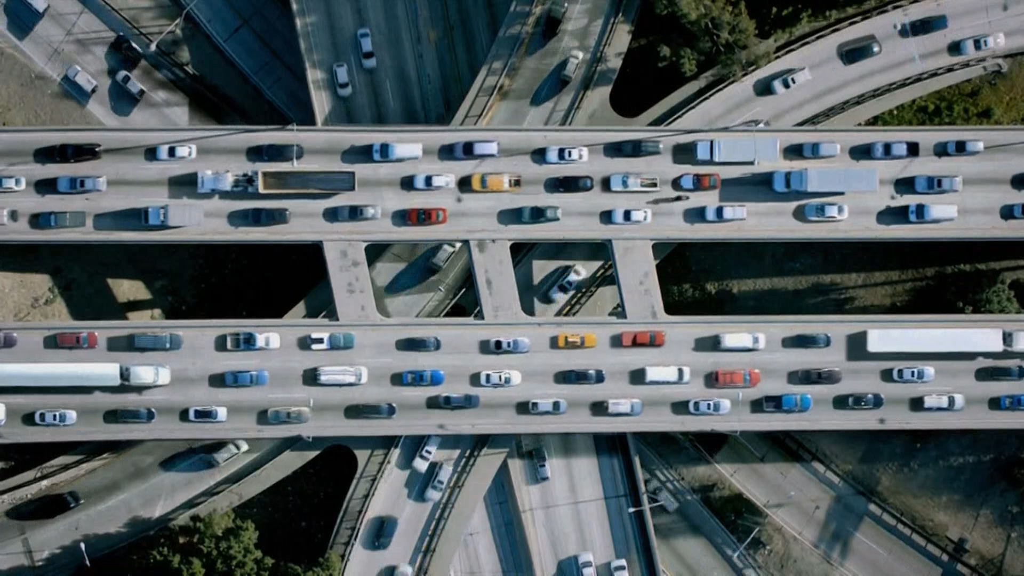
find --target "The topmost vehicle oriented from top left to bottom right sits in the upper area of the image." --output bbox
[110,32,145,65]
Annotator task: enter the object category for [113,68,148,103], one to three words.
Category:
car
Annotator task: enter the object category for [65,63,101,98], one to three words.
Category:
car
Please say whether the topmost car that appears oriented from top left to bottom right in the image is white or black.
black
